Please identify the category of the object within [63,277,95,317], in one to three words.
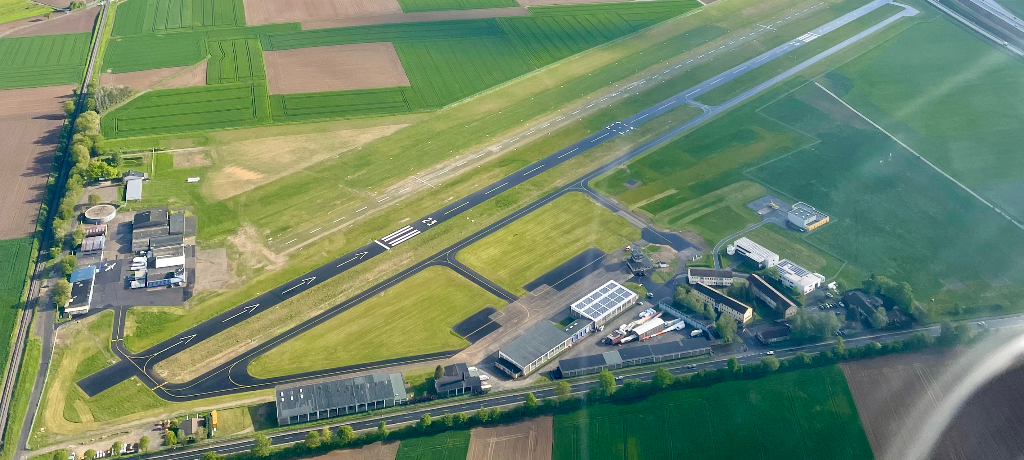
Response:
hangar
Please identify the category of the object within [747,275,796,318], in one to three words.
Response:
building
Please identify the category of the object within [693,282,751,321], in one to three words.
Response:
building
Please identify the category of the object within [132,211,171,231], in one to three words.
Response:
hangar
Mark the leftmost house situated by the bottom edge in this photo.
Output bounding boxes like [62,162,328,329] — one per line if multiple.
[181,416,205,441]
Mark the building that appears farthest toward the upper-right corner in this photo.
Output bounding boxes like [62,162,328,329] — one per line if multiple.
[787,203,830,231]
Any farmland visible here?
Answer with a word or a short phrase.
Yes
